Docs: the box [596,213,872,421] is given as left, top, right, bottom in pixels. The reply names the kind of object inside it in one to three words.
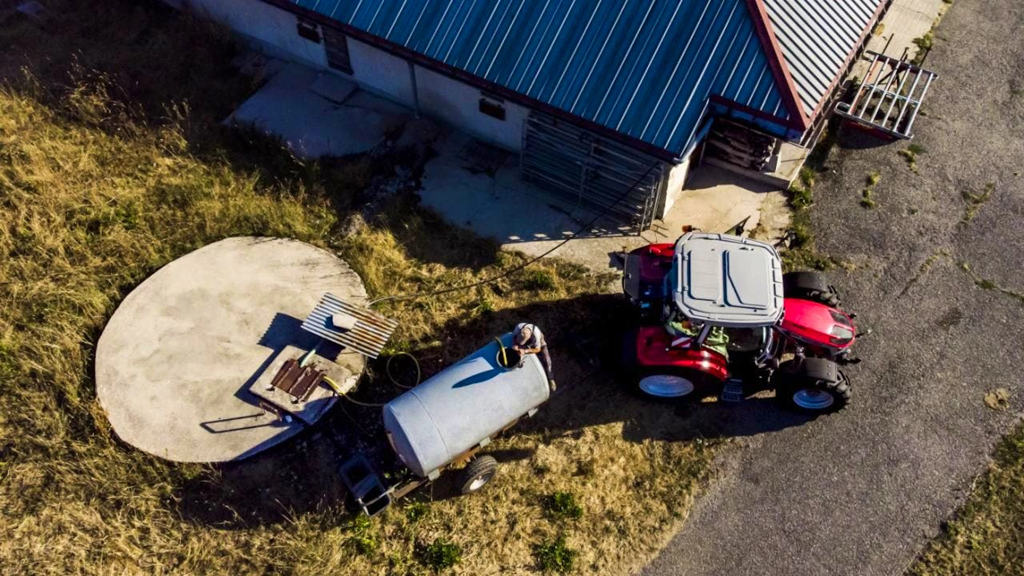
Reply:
work vehicle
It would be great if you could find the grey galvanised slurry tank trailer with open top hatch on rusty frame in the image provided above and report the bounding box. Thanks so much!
[368,337,577,505]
